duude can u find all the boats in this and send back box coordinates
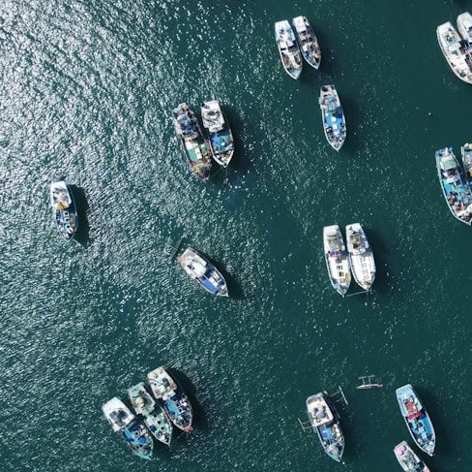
[274,18,302,81]
[179,248,230,297]
[320,85,346,152]
[101,396,153,461]
[395,438,430,472]
[457,10,472,55]
[49,180,79,241]
[129,382,173,446]
[174,105,210,183]
[436,19,472,84]
[292,15,322,70]
[308,392,343,463]
[147,366,192,431]
[202,100,233,168]
[462,145,472,189]
[324,224,351,298]
[396,382,434,458]
[345,222,375,292]
[436,147,472,226]
[357,375,383,388]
